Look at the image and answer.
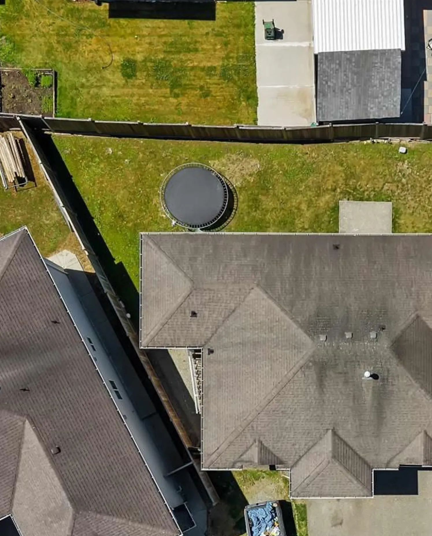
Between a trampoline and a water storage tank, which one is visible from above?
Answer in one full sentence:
The image shows a trampoline.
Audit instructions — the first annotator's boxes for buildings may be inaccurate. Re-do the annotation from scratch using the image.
[138,231,432,501]
[0,224,194,536]
[317,52,402,135]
